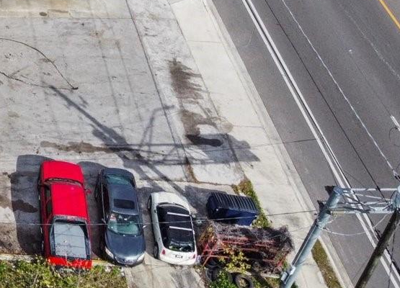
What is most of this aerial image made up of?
paved ground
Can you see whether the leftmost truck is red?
Yes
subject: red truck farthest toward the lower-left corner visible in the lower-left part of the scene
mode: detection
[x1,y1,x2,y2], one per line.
[33,155,95,269]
